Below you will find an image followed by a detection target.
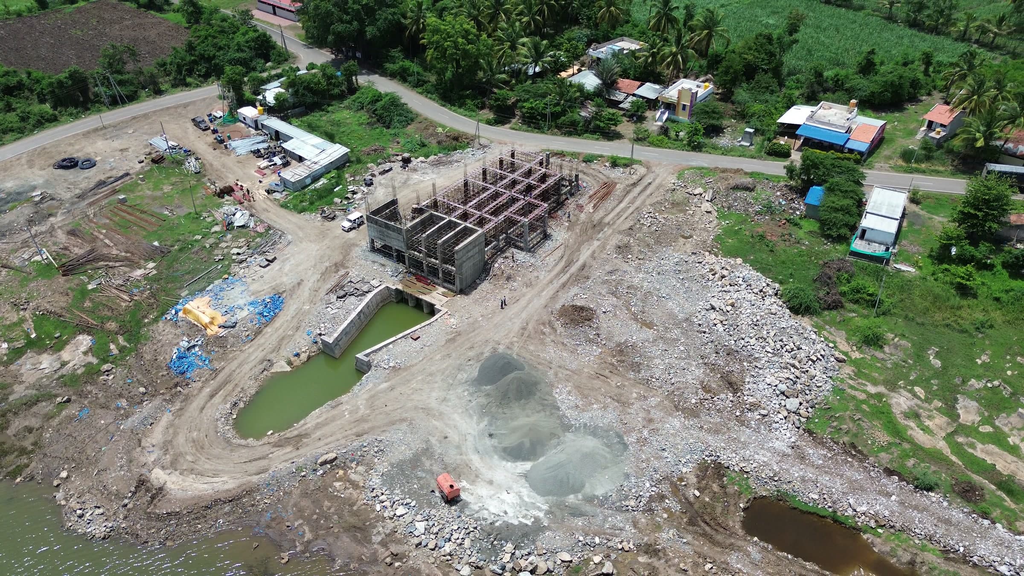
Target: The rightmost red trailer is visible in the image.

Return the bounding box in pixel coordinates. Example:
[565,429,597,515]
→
[435,466,465,507]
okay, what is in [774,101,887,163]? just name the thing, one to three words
house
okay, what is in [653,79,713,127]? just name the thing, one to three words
house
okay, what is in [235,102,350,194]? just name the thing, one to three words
shed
